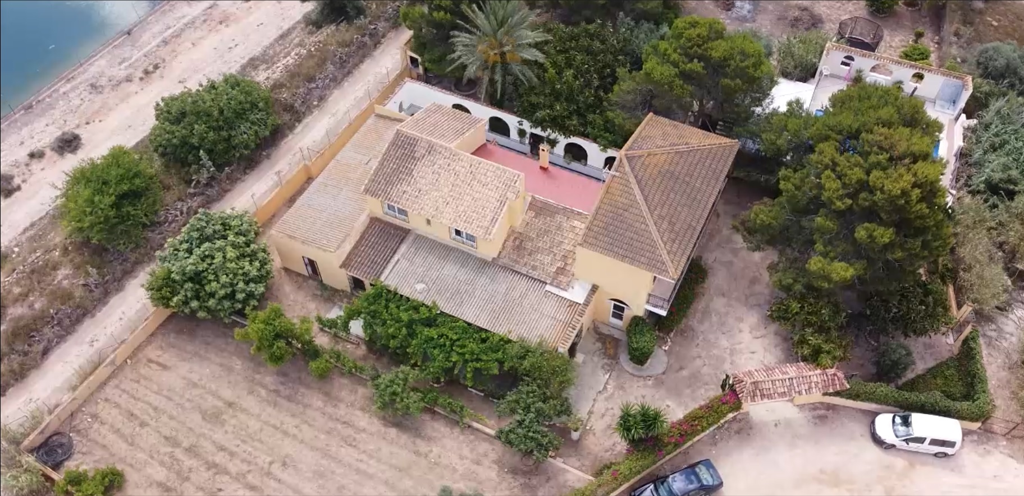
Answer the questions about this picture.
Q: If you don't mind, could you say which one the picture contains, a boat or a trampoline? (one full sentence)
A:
This aerial view contains a trampoline.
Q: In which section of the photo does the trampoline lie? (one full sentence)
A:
The trampoline appears toward the top right of the photo.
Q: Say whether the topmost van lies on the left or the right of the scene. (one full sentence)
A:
The topmost van is on the right side of the image.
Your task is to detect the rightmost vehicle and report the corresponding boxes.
[869,409,968,459]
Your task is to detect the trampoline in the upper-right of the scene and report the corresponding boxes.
[837,10,888,49]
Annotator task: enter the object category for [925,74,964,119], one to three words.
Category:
building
